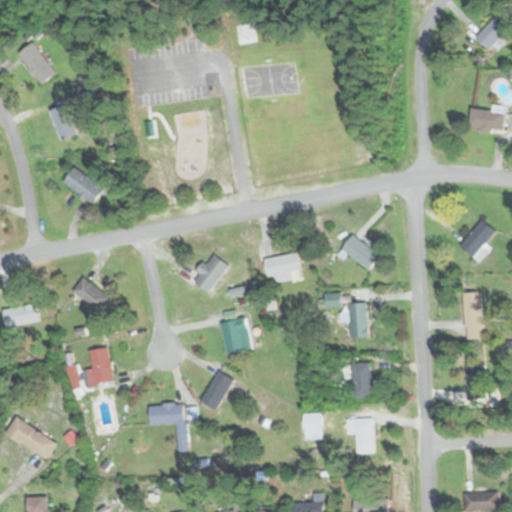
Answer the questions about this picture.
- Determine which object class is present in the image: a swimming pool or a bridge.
swimming pool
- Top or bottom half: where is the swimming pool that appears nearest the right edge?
top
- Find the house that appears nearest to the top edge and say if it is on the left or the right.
right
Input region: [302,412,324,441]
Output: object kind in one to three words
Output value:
building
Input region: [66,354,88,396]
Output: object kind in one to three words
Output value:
building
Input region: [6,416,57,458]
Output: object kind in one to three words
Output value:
house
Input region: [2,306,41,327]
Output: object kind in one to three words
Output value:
house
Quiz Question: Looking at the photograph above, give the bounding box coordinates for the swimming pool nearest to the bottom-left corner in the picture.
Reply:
[92,395,119,436]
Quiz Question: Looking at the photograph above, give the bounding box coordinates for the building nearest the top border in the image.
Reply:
[476,18,503,49]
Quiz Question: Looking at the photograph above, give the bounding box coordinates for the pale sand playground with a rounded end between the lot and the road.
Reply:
[174,111,208,179]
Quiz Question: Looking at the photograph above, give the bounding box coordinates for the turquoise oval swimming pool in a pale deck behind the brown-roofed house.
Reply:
[492,78,512,106]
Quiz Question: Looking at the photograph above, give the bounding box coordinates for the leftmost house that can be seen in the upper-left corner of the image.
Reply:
[18,43,57,84]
